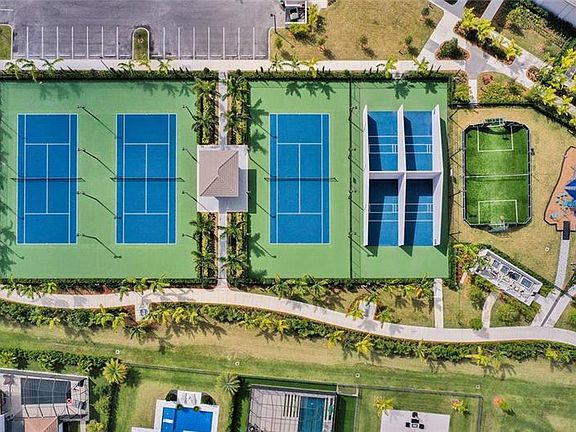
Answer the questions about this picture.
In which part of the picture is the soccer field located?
right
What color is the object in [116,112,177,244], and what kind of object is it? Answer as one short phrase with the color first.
blue tennis court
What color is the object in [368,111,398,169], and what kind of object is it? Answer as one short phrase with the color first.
blue sports court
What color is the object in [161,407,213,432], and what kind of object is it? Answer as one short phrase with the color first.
blue swimming pool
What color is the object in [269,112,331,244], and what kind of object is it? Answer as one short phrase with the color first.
blue tennis court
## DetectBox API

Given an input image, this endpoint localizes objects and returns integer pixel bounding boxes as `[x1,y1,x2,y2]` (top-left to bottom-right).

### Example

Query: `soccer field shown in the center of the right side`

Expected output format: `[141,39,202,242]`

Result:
[467,124,530,225]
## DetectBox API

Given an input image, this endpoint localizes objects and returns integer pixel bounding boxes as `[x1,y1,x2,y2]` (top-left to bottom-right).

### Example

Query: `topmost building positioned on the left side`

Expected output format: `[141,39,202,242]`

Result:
[197,145,248,212]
